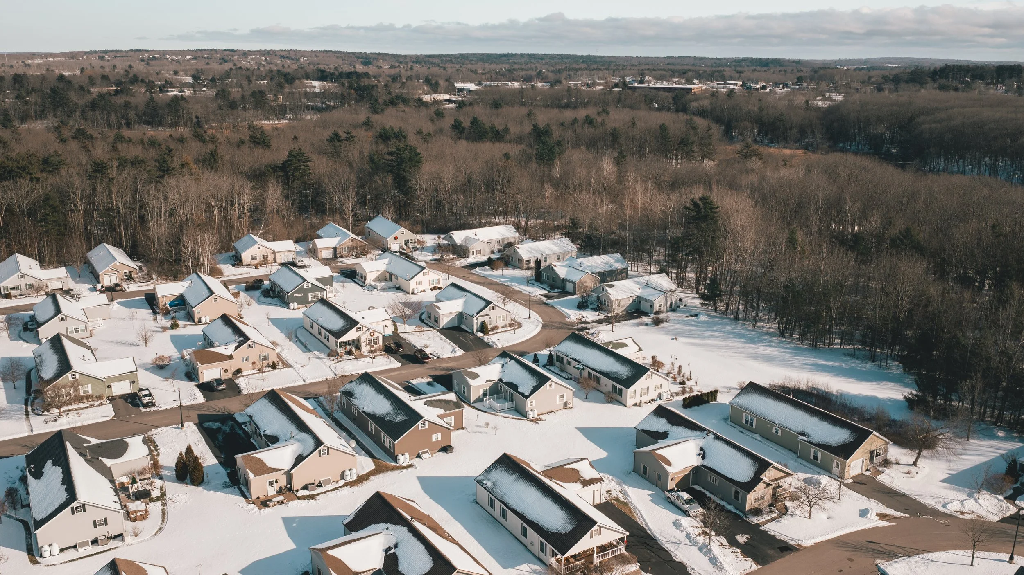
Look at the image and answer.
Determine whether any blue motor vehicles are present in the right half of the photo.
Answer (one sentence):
No, in the right half of the photo there is no blue motor vehicle.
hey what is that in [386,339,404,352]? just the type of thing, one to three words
vehicle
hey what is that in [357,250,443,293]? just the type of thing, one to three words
house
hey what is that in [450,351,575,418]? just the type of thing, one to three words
house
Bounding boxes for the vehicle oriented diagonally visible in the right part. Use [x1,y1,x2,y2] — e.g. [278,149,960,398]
[664,490,703,517]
